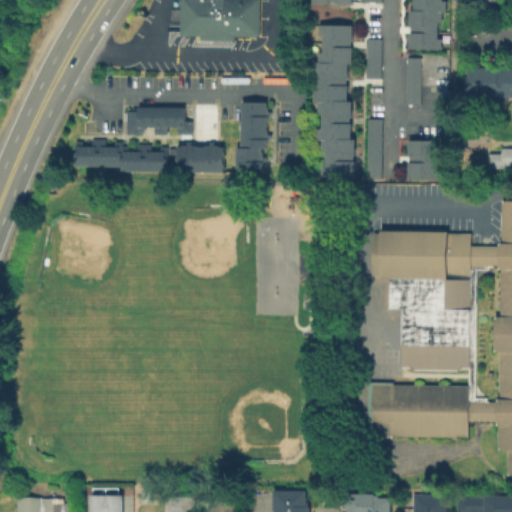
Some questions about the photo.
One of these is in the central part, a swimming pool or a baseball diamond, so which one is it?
baseball diamond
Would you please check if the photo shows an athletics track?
No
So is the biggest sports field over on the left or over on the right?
left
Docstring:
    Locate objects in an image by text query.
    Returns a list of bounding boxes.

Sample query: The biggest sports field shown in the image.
[14,182,308,482]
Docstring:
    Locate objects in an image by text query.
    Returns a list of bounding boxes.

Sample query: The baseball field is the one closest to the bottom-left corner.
[20,432,77,475]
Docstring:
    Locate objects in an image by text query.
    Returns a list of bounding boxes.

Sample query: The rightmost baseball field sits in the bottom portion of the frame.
[220,371,310,476]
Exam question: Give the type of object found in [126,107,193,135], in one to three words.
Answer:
building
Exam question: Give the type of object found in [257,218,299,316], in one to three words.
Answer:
basketball court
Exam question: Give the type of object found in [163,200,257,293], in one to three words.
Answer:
baseball field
